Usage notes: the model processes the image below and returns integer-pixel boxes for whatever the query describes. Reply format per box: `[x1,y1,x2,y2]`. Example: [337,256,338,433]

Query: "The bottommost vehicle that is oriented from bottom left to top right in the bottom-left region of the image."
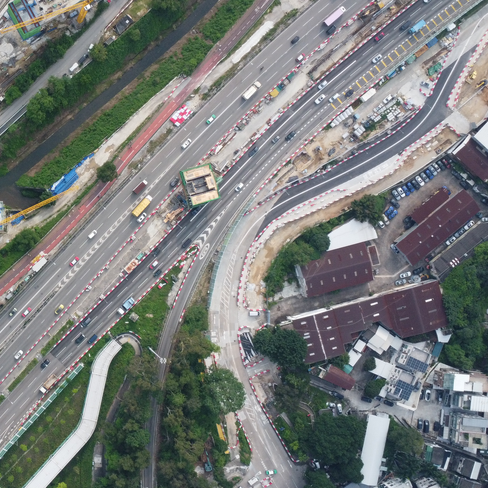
[39,374,58,393]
